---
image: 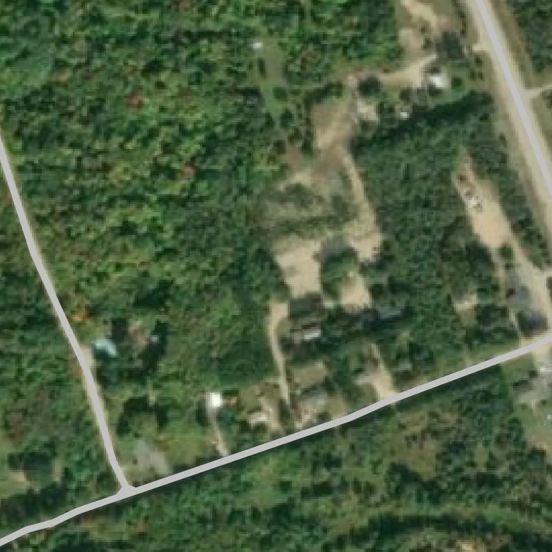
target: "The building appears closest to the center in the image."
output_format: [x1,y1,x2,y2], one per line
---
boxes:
[292,329,320,342]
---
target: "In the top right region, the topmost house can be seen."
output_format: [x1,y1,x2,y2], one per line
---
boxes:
[439,29,461,56]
